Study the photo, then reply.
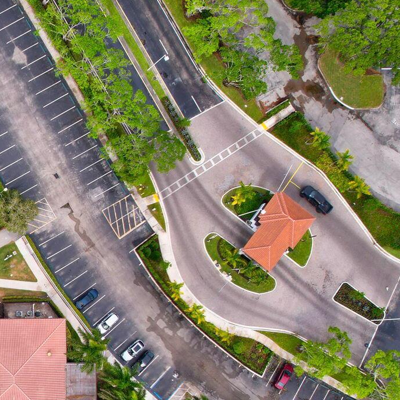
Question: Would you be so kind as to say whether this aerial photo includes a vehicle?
Yes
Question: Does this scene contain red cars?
Yes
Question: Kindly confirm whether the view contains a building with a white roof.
No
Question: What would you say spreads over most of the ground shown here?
paved ground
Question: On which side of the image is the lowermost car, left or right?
right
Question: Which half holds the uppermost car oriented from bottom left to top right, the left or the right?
left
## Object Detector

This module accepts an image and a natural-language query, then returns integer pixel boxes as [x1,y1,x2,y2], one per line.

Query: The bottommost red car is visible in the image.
[274,364,294,392]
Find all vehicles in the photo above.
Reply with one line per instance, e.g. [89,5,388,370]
[97,310,121,336]
[75,286,101,310]
[301,184,338,215]
[120,337,147,363]
[274,364,294,392]
[133,349,159,374]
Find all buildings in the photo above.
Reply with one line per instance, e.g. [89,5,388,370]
[0,318,97,400]
[236,191,316,273]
